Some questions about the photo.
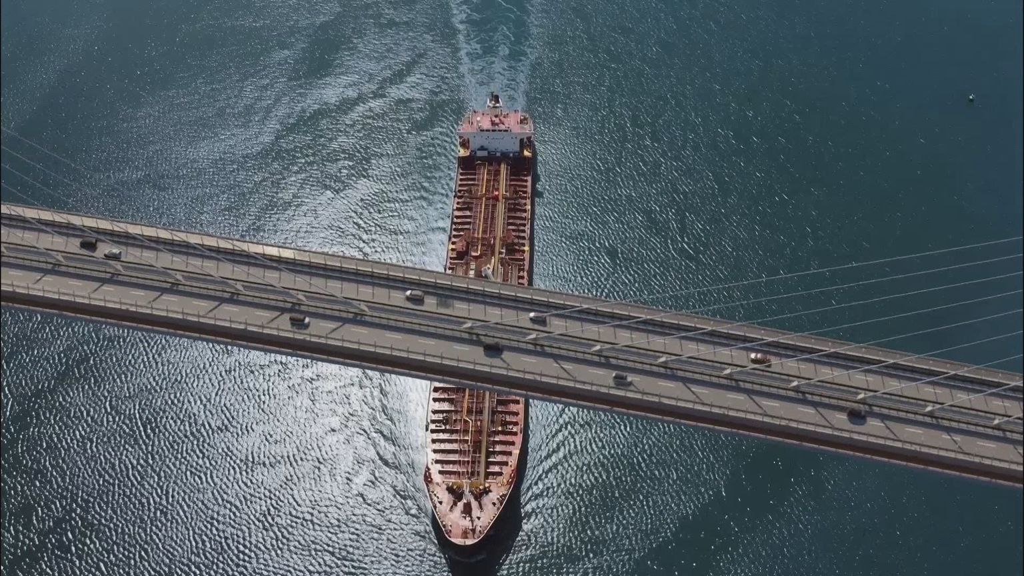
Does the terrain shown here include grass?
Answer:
No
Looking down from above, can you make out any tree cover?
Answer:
No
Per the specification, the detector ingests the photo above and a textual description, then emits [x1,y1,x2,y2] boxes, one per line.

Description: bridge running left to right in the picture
[0,127,1024,492]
